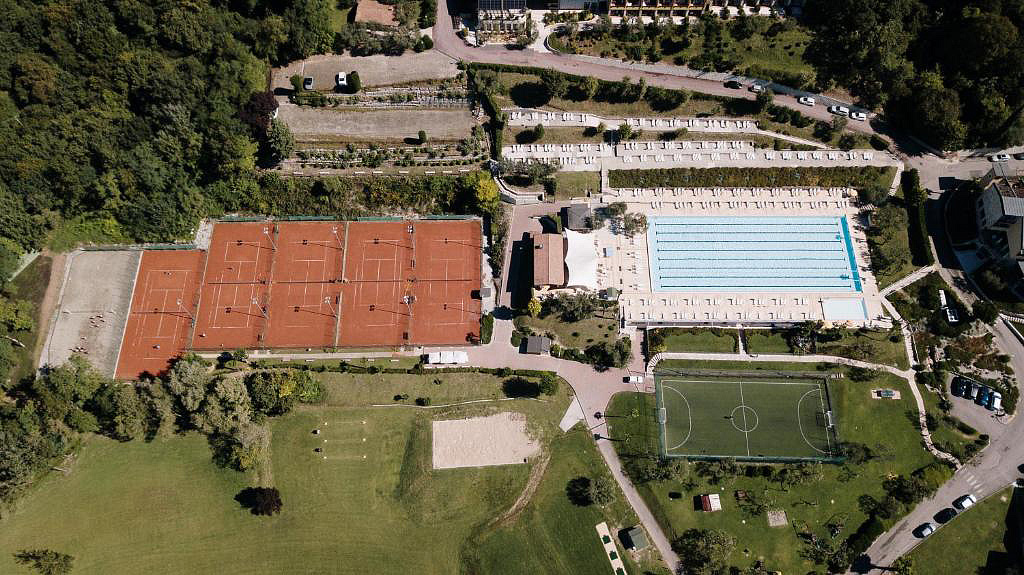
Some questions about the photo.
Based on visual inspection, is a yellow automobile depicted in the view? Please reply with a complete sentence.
No, there appears to be no yellow automobile in this shot.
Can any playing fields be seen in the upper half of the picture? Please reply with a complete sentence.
No, I see no playing field in the upper half of the picture.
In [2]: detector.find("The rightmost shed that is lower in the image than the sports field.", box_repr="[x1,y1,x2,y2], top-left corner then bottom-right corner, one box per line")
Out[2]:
[699,494,722,513]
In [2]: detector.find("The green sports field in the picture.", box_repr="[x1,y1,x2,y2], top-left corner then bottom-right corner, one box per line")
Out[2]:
[656,375,836,457]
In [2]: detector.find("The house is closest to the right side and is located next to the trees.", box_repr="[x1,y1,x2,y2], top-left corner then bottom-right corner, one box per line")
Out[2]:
[968,158,1024,275]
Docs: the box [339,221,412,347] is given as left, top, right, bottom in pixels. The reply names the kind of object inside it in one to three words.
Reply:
tennis court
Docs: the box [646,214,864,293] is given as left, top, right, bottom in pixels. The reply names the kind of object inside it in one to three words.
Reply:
swimming pool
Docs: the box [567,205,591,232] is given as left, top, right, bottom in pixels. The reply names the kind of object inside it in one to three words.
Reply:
building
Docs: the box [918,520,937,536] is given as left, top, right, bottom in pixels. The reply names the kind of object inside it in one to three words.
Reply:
car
